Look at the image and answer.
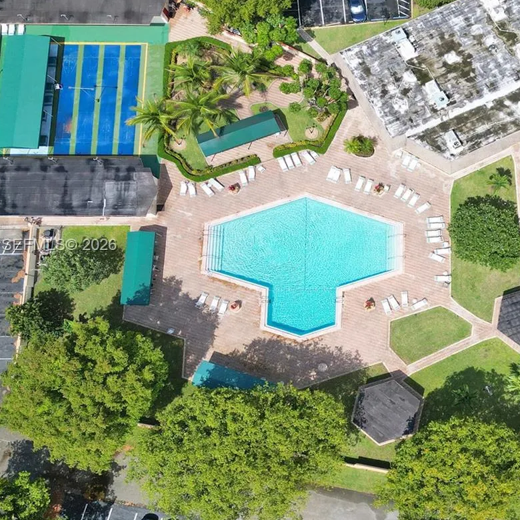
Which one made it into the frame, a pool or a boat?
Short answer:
pool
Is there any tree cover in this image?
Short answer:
Yes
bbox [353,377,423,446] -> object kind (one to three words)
gazebo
